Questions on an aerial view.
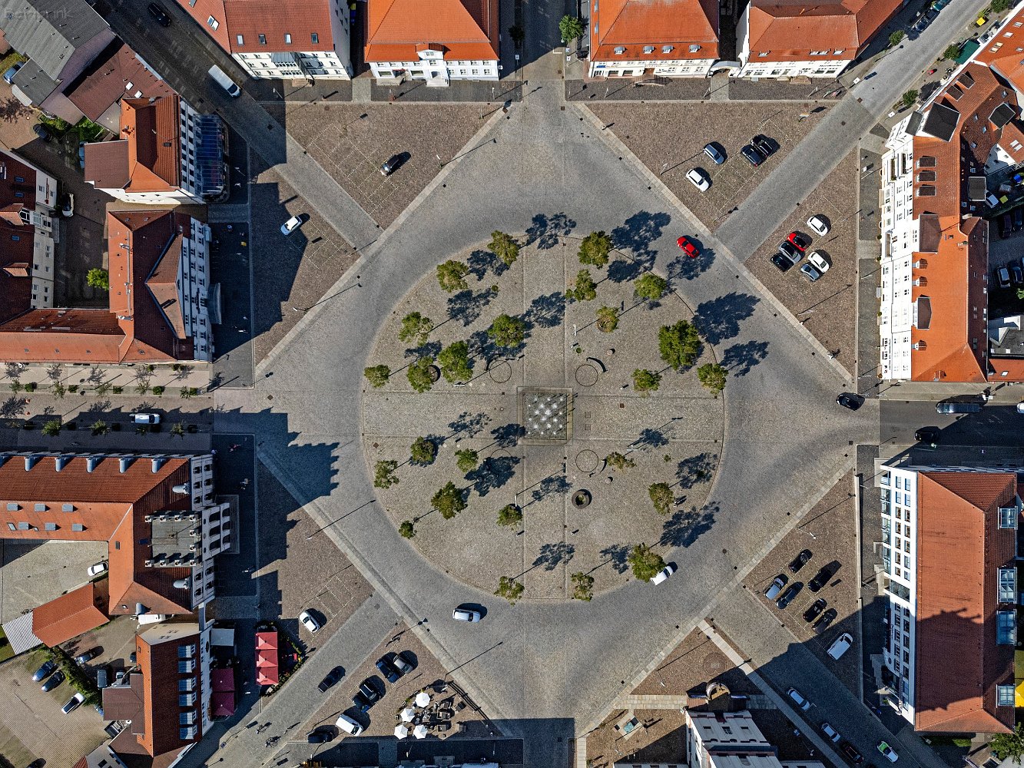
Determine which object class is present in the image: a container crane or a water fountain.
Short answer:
water fountain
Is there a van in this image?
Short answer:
Yes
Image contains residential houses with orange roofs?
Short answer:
Yes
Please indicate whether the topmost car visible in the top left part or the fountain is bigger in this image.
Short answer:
the fountain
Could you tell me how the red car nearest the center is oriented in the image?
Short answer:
on a diagonal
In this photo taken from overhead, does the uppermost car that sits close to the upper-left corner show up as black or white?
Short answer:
black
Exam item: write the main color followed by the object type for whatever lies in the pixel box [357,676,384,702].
black car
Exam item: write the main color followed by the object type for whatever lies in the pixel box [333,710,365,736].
white vehicle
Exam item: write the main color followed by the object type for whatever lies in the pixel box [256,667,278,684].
red umbrella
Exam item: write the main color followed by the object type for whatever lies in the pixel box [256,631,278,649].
red umbrella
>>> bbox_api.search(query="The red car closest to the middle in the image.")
[674,235,701,259]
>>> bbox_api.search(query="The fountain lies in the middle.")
[517,387,573,445]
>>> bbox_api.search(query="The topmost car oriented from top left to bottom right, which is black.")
[145,1,174,29]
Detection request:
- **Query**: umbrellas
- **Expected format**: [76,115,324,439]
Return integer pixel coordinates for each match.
[256,631,278,649]
[401,704,415,721]
[394,721,408,738]
[256,667,278,684]
[256,649,278,667]
[413,721,428,738]
[415,689,431,707]
[212,692,235,716]
[212,668,235,691]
